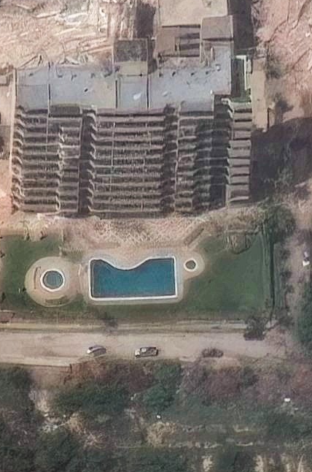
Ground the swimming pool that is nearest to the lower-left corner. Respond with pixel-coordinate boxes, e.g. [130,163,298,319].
[39,265,67,292]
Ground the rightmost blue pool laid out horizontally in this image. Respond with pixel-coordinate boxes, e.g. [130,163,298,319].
[87,256,178,300]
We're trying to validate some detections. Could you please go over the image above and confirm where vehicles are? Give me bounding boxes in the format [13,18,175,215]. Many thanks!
[136,345,158,357]
[86,344,107,355]
[201,347,222,358]
[245,329,266,339]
